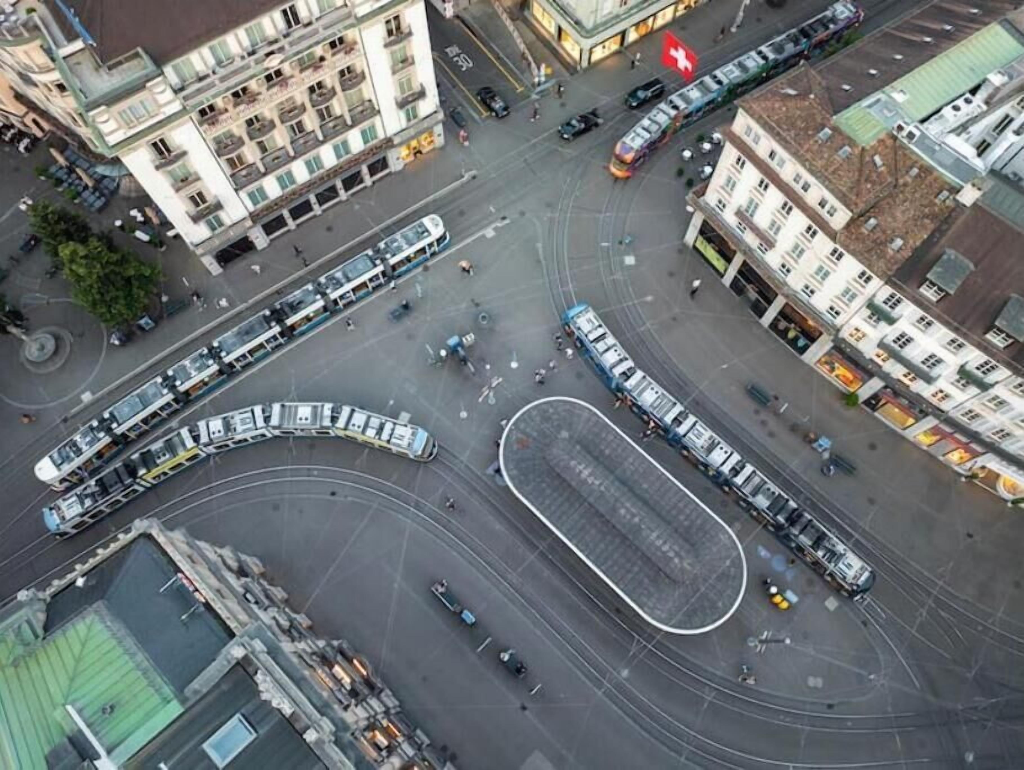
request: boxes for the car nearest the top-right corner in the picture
[624,76,667,110]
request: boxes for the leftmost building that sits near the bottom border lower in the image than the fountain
[0,511,462,770]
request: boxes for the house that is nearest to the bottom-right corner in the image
[910,380,1024,516]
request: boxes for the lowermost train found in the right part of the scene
[560,308,871,590]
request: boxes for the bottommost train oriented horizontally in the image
[58,400,441,533]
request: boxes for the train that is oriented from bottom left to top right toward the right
[609,4,859,188]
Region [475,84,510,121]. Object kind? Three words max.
car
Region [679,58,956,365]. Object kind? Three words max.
house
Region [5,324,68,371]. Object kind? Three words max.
fountain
